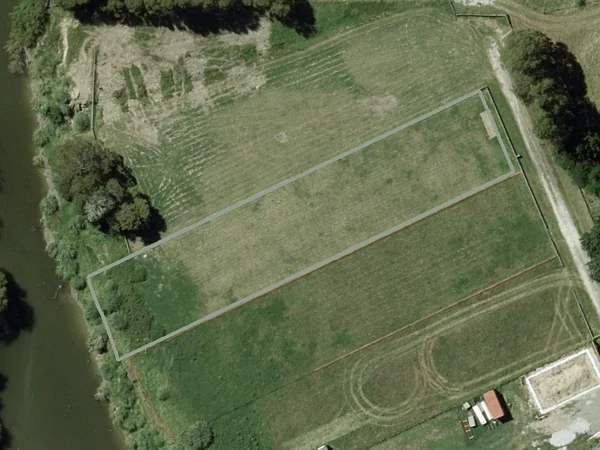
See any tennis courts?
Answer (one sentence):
No, the frame has no tennis court in it.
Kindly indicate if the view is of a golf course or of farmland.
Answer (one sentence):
This looks like farmland.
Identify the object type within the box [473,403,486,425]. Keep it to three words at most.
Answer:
vehicle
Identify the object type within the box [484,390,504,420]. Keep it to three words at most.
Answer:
shed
